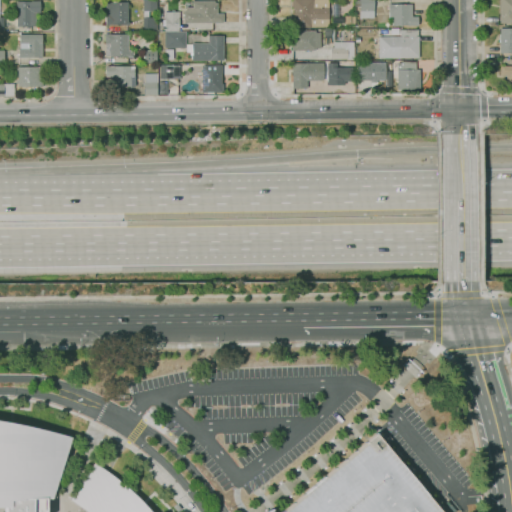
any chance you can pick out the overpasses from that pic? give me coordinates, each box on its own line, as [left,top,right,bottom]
[438,125,486,290]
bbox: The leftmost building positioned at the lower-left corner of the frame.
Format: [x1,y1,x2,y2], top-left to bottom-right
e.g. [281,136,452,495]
[0,420,74,512]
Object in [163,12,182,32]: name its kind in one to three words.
house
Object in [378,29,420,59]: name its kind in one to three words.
house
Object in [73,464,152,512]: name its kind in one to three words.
building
